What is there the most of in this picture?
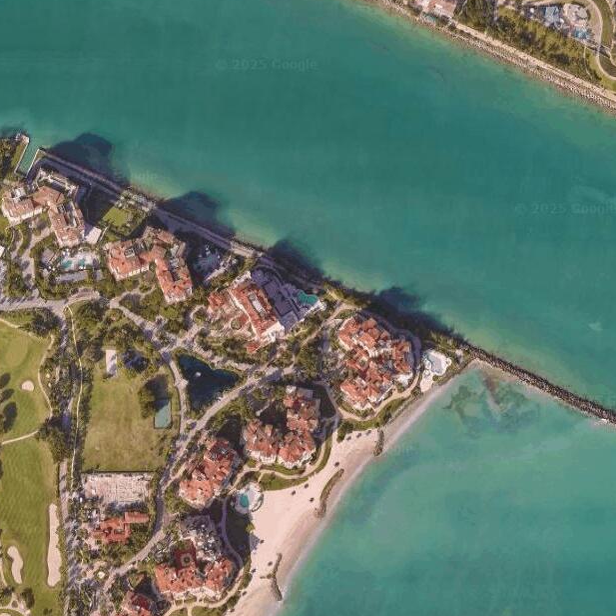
water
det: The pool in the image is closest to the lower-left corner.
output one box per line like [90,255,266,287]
[234,481,263,513]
